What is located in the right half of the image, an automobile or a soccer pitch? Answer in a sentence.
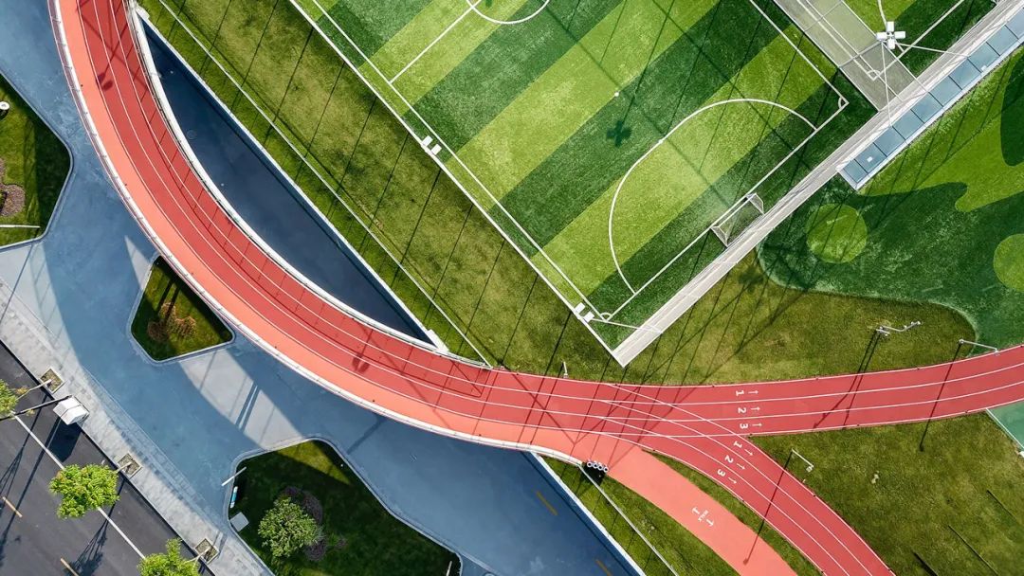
The feature located in the right half of the image is a soccer pitch.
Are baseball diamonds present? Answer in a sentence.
No, the scene contains no baseball diamond.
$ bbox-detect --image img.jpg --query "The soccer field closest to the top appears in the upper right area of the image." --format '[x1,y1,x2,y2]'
[786,0,1007,111]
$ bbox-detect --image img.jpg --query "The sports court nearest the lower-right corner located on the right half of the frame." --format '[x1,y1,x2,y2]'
[984,399,1024,450]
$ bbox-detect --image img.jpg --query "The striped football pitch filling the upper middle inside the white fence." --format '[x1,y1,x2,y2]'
[295,0,879,351]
